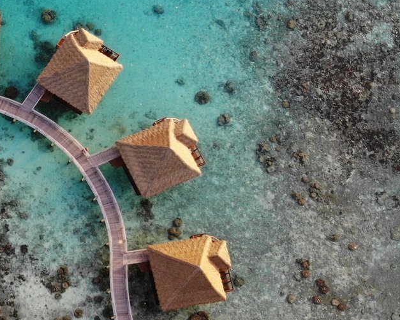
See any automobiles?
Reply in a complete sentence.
No, the photo shows no automobile.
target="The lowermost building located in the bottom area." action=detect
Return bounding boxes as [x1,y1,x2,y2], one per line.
[133,233,232,310]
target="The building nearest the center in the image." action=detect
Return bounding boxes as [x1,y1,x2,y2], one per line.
[109,117,205,198]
